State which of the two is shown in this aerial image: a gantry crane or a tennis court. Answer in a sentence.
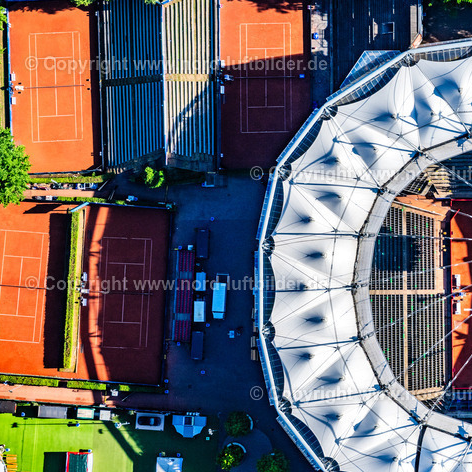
There is a tennis court in the scene.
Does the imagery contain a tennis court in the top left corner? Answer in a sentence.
Yes, you'll find a tennis court in the top left corner.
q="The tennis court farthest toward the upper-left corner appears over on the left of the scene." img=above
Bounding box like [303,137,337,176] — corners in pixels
[6,1,102,173]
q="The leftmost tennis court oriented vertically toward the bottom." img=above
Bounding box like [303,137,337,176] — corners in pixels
[0,202,79,379]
